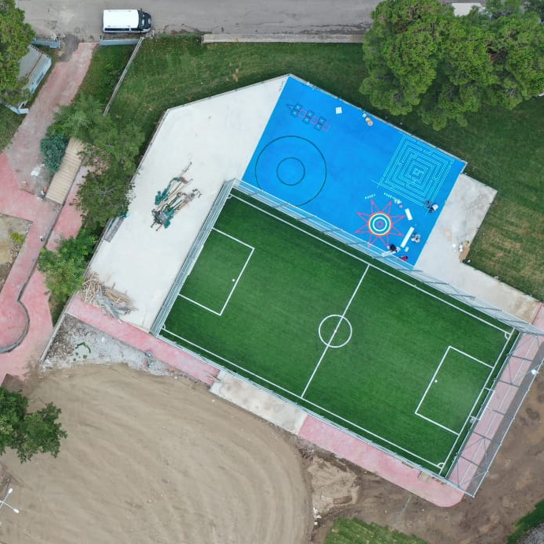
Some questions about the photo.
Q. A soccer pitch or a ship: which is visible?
soccer pitch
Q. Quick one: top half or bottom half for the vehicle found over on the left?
top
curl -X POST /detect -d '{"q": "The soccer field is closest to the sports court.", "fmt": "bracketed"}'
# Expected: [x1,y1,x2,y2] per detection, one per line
[153,182,519,479]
